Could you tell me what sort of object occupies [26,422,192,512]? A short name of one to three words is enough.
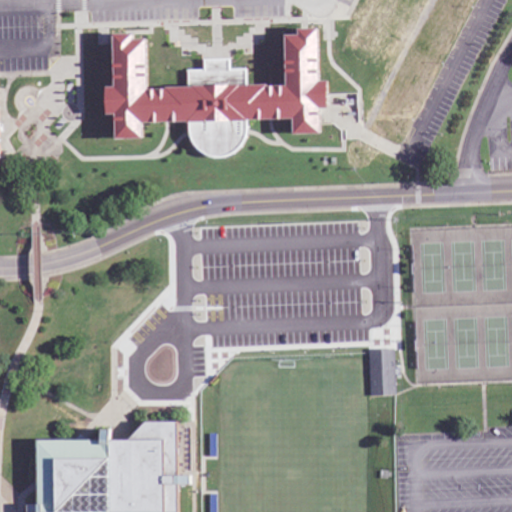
building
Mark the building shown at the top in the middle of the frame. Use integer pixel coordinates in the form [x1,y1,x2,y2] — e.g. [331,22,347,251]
[103,28,330,158]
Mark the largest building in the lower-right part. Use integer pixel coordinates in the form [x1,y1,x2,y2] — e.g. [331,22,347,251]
[370,349,396,396]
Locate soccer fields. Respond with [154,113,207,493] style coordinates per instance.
[218,354,368,512]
